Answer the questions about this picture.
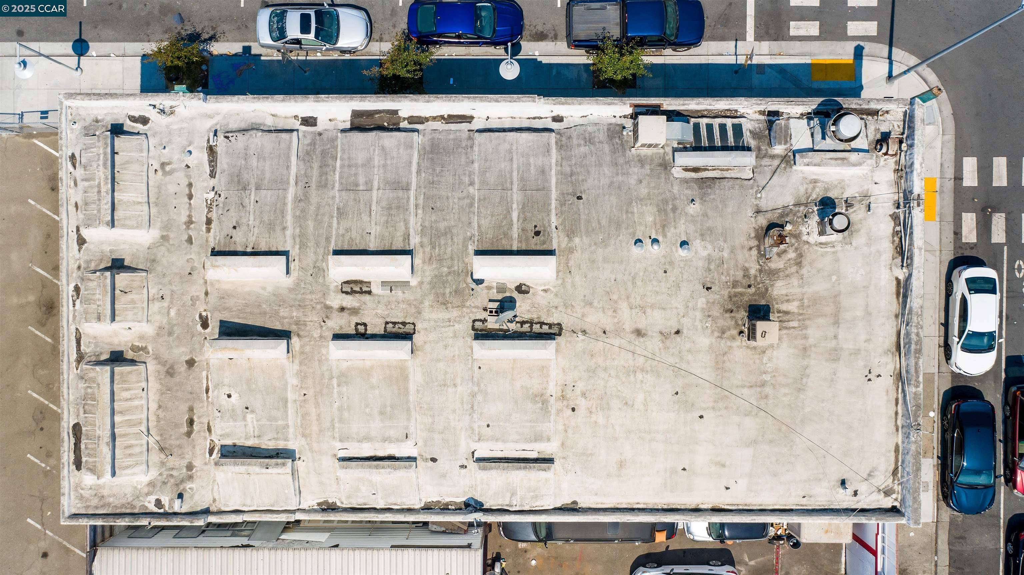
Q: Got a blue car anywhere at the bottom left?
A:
No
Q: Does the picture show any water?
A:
No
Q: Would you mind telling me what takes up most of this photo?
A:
buildings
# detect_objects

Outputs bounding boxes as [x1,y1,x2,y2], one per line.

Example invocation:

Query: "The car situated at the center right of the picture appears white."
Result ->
[942,265,1006,376]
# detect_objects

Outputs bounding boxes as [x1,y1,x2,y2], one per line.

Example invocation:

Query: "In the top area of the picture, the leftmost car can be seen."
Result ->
[256,0,374,54]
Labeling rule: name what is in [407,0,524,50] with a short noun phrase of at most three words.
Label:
car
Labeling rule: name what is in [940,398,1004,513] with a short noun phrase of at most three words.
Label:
car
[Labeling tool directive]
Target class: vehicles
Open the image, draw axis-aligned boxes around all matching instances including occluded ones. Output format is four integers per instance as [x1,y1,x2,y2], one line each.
[634,563,734,575]
[256,0,374,54]
[561,0,702,55]
[942,265,1006,376]
[1002,529,1024,575]
[498,521,678,550]
[940,398,1004,513]
[407,0,524,50]
[680,521,769,549]
[999,381,1024,496]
